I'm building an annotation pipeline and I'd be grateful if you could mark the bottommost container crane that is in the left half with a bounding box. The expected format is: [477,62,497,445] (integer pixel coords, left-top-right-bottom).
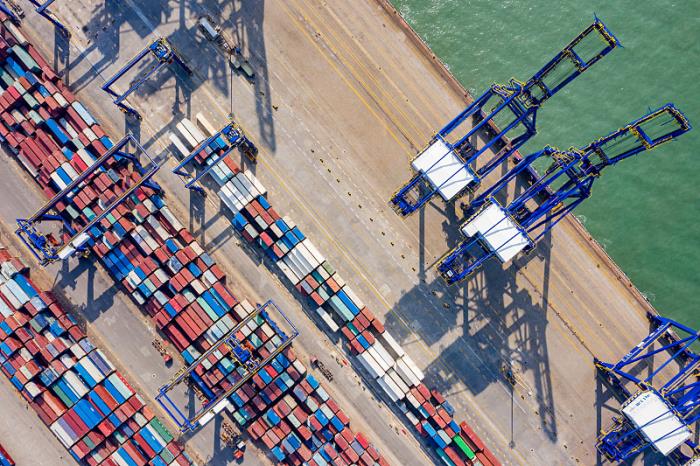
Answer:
[154,299,300,434]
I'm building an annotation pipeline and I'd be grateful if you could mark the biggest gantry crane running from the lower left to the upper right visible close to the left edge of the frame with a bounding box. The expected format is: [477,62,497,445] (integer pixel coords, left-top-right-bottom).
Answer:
[14,133,164,267]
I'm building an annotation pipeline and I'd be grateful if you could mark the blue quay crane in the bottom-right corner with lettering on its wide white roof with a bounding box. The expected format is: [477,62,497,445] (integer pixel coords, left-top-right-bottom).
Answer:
[590,308,700,466]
